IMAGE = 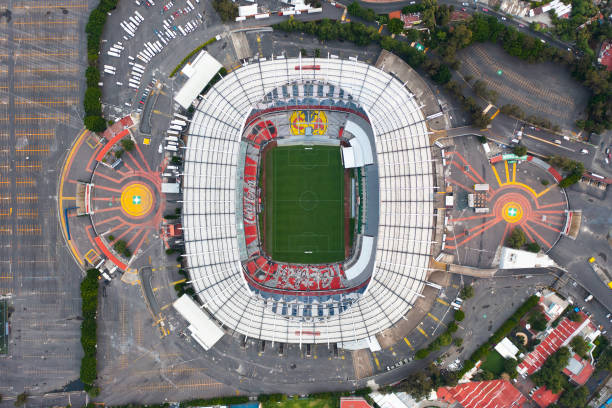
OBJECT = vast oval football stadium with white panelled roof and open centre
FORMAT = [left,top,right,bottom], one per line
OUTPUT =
[179,51,437,349]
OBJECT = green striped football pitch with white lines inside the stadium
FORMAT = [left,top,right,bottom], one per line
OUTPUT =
[273,146,344,263]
